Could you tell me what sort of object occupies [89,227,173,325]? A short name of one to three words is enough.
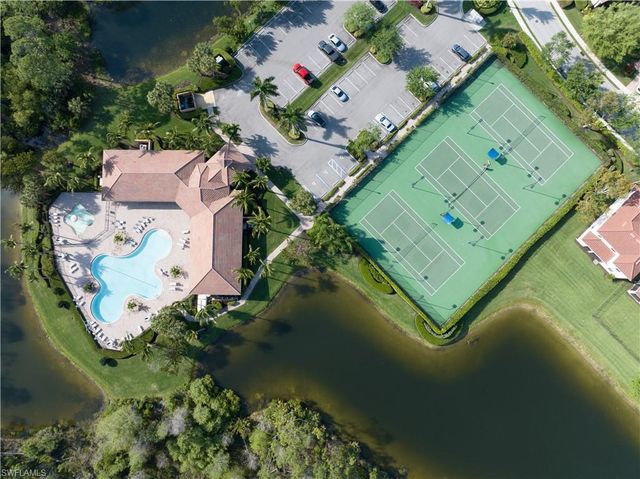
swimming pool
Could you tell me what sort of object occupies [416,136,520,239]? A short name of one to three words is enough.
tennis court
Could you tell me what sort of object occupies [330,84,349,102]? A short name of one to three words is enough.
car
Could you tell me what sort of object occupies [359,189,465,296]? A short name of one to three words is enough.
tennis court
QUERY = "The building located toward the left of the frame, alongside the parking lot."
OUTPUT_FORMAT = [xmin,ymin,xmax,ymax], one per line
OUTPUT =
[101,142,254,295]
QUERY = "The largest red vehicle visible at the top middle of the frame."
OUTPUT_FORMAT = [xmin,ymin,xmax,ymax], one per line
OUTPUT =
[292,63,314,86]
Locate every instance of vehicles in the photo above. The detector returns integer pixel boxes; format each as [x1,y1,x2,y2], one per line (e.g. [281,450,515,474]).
[369,0,387,12]
[377,115,396,133]
[292,63,314,86]
[319,40,341,62]
[308,109,326,127]
[329,33,347,51]
[330,84,349,102]
[452,43,472,61]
